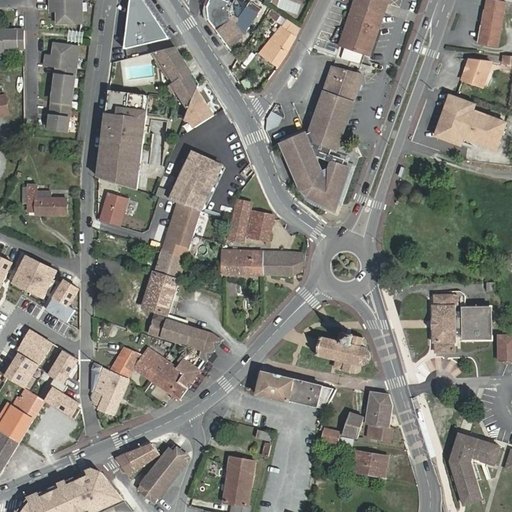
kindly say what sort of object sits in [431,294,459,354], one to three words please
building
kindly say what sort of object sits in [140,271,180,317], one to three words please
barn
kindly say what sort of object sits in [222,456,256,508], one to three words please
house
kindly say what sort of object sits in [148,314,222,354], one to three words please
house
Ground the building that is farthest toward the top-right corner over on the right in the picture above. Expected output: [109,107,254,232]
[478,0,506,48]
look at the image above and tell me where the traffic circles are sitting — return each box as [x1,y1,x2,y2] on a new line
[316,236,376,297]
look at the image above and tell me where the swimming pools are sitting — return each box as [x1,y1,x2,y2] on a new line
[122,52,156,87]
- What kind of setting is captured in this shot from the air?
residential area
